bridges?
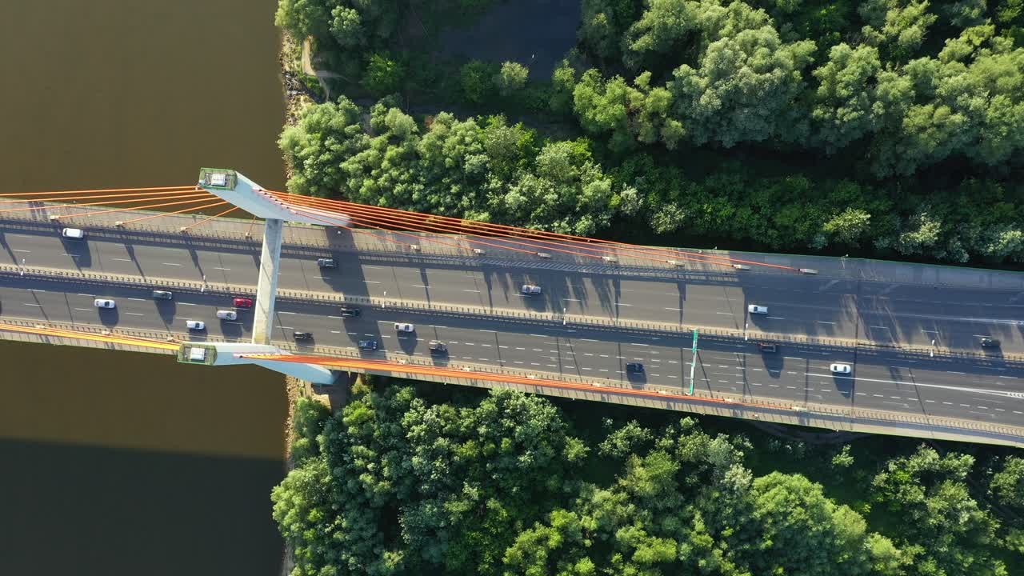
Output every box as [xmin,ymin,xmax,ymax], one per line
[0,167,1024,448]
